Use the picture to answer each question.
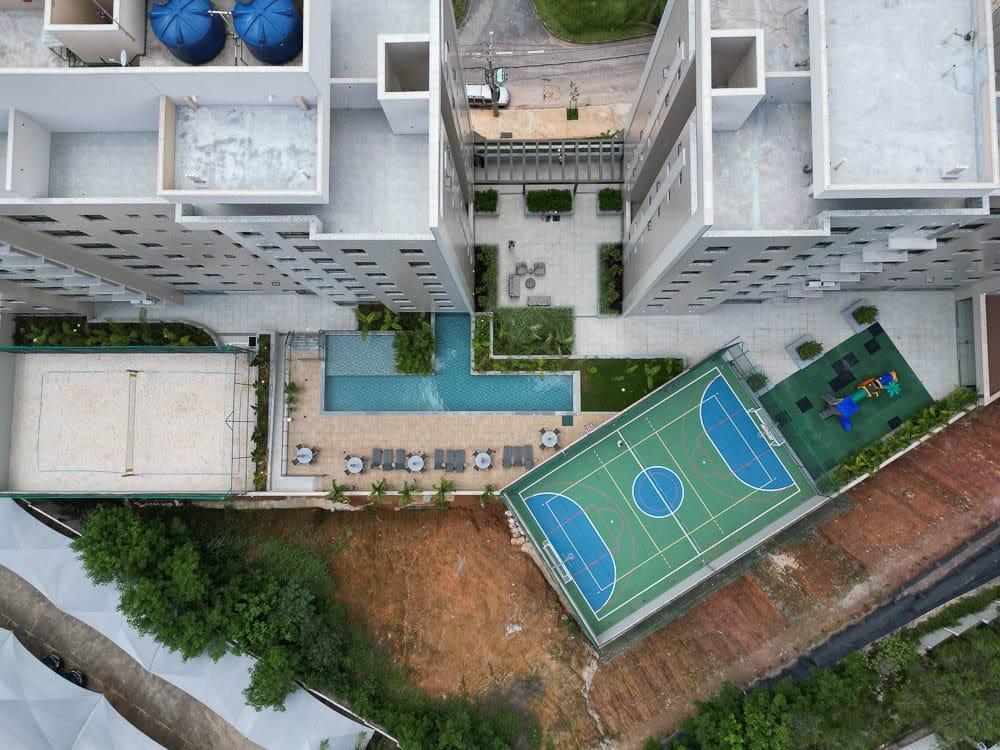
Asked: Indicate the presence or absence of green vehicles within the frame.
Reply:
No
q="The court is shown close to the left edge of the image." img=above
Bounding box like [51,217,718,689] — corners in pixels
[12,352,252,491]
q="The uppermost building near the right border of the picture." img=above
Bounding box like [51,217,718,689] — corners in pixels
[620,0,1000,315]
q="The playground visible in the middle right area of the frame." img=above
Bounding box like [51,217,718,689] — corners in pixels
[767,321,936,481]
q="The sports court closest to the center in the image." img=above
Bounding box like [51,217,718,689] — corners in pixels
[502,346,824,641]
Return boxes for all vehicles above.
[39,644,69,674]
[64,662,94,688]
[463,78,508,107]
